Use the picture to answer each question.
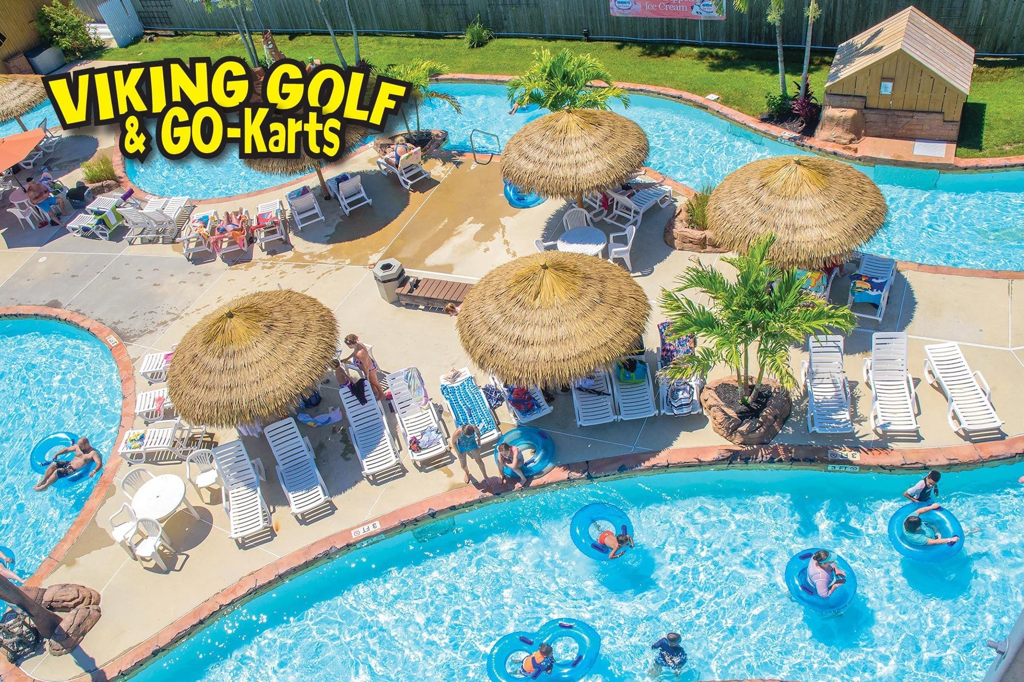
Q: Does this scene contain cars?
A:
No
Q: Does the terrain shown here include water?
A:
Yes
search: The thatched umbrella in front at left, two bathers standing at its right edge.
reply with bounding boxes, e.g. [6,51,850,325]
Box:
[167,298,348,441]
